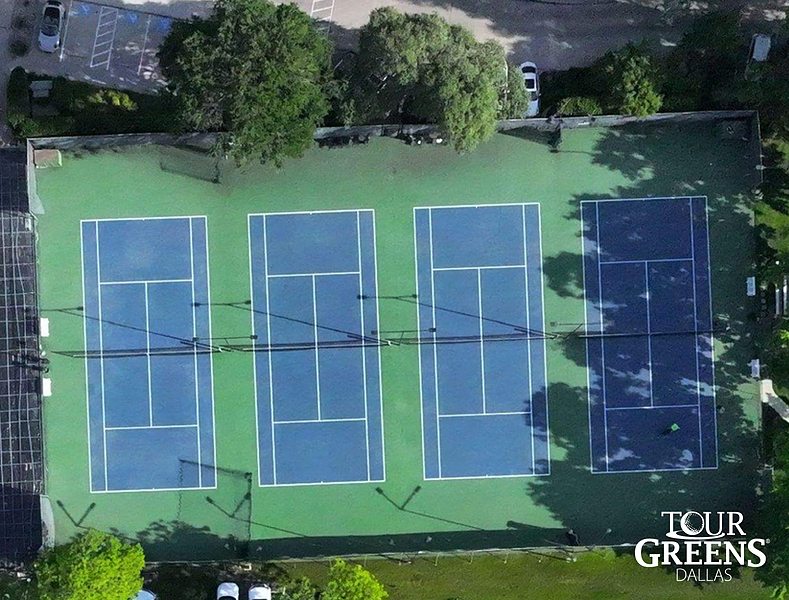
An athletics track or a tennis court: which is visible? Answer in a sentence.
Visible in the photo is a tennis court.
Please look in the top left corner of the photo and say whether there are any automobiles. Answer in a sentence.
Yes, an automobile shows up in the top left corner of the photo.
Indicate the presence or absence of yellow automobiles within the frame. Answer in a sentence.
No, the frame has no yellow automobile in it.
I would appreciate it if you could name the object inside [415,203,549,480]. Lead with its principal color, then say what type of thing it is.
blue tennis court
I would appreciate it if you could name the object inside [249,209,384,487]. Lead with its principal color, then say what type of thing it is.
blue tennis court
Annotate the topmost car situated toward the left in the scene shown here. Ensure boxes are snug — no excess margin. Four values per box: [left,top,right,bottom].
[37,0,65,54]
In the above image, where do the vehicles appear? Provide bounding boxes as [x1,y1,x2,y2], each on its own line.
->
[216,582,241,600]
[250,583,272,600]
[37,0,65,54]
[745,32,772,81]
[524,65,547,119]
